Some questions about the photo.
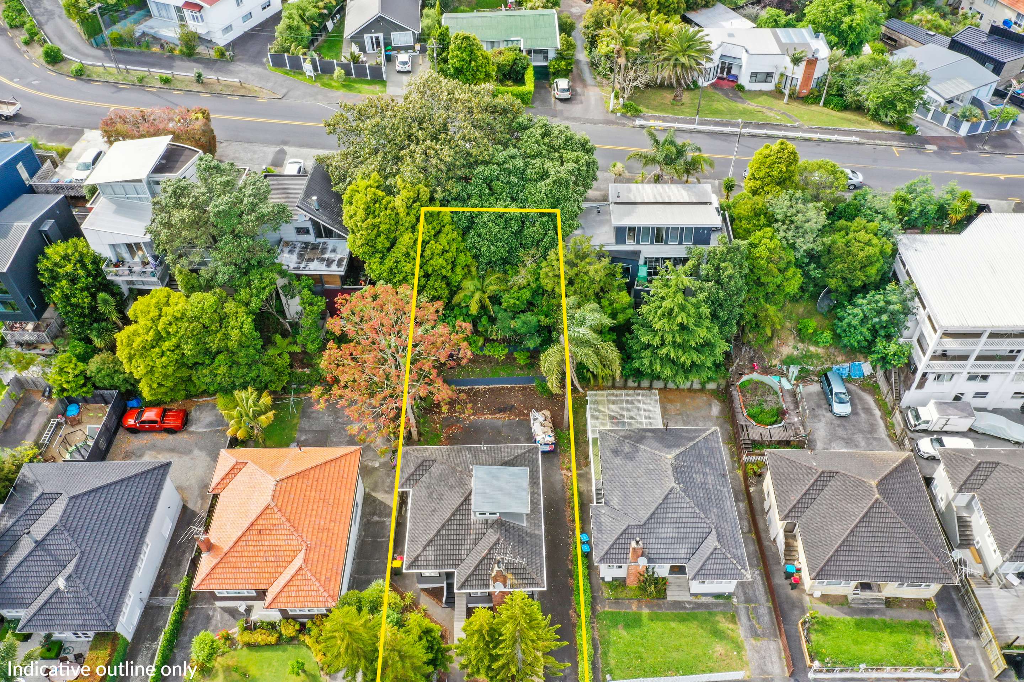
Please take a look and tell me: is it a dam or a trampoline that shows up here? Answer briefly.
trampoline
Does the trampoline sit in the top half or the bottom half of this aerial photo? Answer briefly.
bottom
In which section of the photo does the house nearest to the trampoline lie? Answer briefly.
bottom left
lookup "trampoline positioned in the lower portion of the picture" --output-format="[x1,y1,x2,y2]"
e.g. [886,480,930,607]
[50,428,96,461]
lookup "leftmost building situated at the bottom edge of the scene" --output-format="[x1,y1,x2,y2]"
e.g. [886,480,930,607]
[0,461,182,652]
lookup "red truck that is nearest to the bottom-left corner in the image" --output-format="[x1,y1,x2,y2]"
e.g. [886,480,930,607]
[119,403,194,433]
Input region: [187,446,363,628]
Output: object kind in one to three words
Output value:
house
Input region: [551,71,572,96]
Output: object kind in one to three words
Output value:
car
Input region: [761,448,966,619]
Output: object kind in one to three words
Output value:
house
